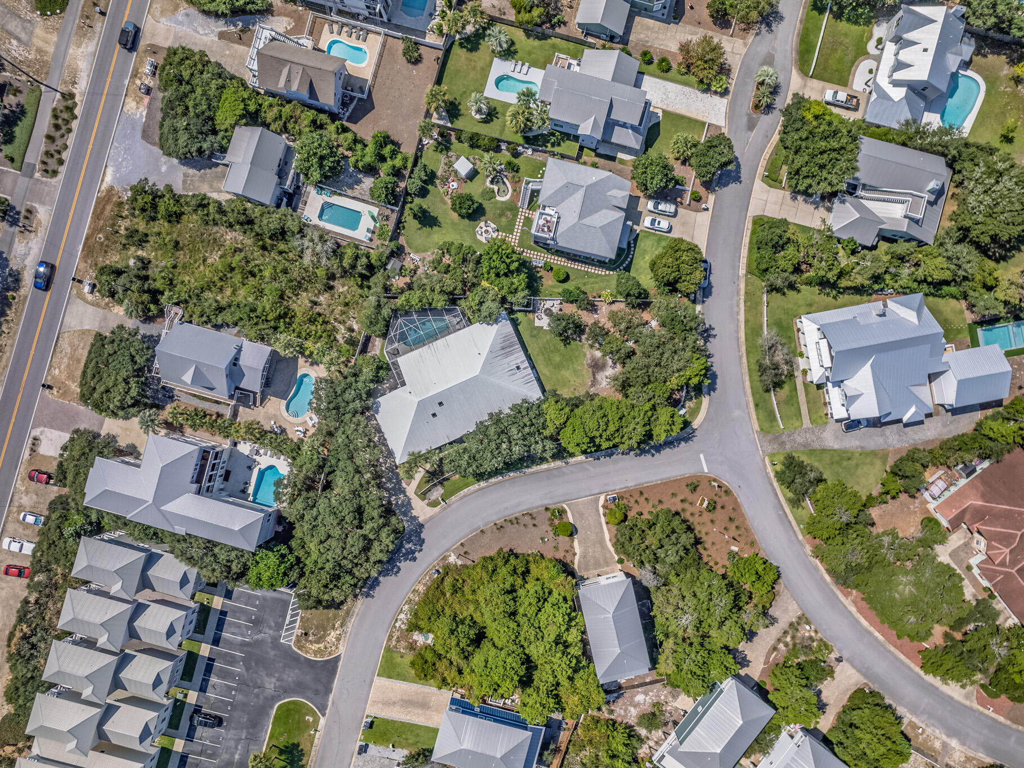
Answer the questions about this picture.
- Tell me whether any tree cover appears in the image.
Yes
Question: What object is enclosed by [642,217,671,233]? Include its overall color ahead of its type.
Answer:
white car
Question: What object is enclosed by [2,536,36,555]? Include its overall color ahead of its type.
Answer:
white vehicle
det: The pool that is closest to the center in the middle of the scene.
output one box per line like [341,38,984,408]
[399,315,451,348]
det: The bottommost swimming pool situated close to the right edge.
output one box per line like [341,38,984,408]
[976,320,1024,352]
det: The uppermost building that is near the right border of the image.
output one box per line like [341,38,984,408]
[860,4,974,130]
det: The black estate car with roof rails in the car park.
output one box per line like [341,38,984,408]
[190,711,221,729]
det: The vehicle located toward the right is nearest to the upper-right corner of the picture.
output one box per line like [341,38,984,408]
[824,90,860,109]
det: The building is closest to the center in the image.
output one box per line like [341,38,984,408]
[373,316,544,465]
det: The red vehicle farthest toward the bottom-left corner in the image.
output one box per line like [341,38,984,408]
[4,564,32,578]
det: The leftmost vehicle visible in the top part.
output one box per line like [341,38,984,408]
[36,262,56,291]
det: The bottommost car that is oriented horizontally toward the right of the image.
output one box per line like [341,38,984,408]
[839,418,867,432]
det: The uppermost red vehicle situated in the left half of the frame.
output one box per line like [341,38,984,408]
[28,469,58,486]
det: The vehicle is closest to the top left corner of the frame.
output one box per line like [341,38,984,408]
[118,21,138,49]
